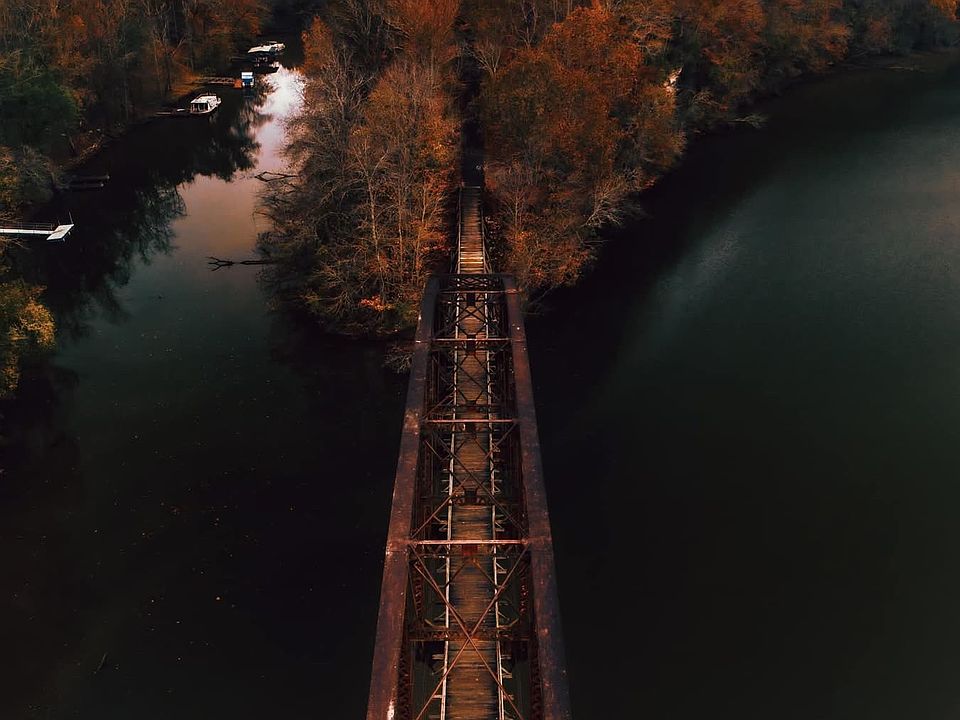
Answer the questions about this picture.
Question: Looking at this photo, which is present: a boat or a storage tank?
boat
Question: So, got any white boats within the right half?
No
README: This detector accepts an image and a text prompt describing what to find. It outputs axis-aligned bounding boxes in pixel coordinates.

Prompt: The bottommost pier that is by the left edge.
[0,204,82,240]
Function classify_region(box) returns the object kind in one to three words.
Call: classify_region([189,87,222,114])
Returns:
boat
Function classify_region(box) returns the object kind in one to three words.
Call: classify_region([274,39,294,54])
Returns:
boat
